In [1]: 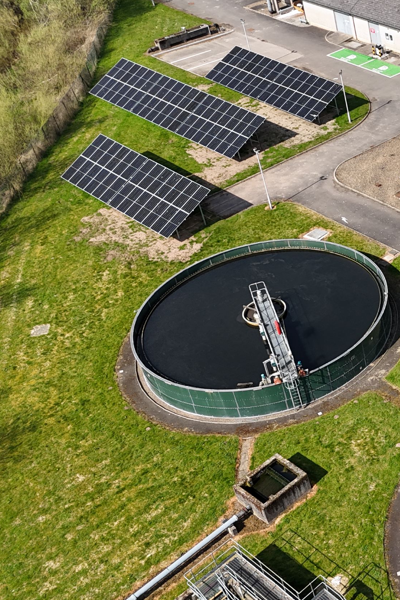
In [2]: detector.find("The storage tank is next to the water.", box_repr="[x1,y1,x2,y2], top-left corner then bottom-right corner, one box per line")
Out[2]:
[132,239,390,417]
